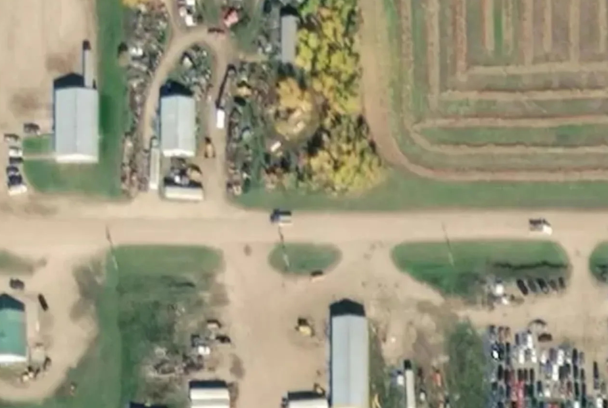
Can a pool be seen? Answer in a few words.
No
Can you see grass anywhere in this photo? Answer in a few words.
Yes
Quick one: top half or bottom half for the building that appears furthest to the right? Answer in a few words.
bottom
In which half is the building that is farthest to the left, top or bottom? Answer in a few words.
bottom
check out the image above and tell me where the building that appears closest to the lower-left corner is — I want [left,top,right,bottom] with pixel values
[0,310,28,361]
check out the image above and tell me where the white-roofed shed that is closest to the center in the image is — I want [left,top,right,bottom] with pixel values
[164,186,203,199]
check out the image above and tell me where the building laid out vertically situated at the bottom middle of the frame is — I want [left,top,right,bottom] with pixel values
[332,314,369,408]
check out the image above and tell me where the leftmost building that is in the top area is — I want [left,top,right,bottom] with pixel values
[55,86,100,163]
